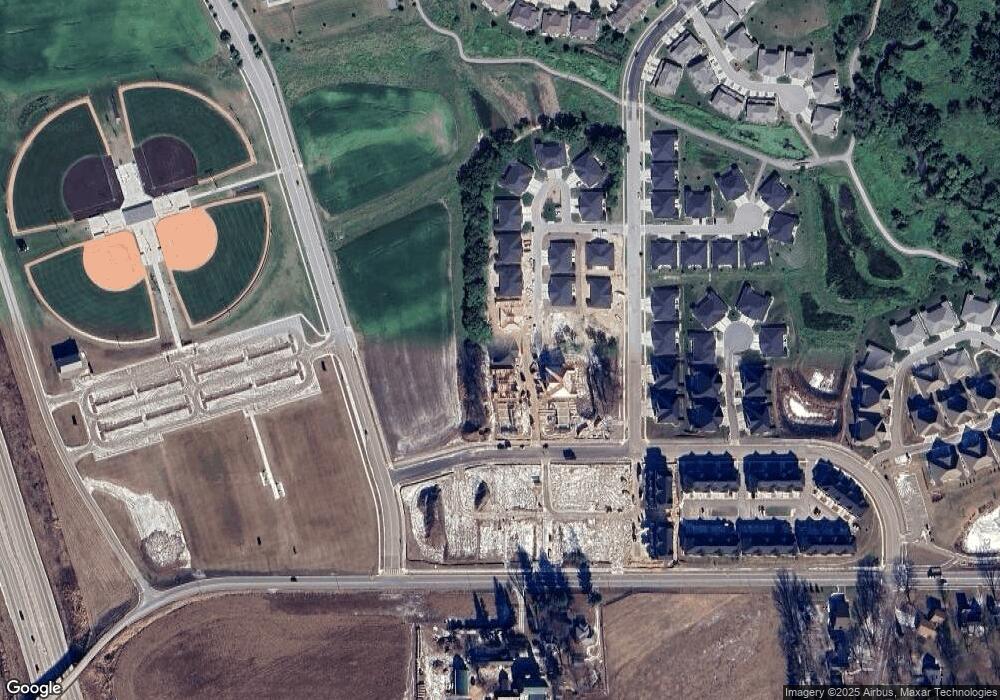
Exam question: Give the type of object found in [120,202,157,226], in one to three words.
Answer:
building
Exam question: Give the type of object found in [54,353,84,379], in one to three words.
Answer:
barn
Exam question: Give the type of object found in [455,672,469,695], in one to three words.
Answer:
shed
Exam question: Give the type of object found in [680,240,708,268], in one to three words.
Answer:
house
